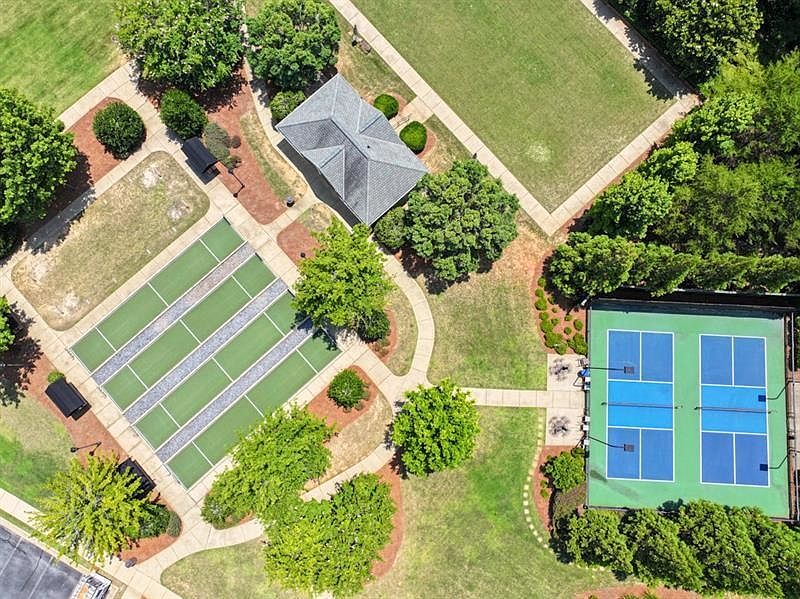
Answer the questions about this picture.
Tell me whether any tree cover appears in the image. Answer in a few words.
Yes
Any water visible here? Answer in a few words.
No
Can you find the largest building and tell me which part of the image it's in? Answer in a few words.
top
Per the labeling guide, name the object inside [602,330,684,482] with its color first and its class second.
blue sports court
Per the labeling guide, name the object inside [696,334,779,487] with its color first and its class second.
blue sports court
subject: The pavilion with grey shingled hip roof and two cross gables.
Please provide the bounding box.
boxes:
[275,73,430,229]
